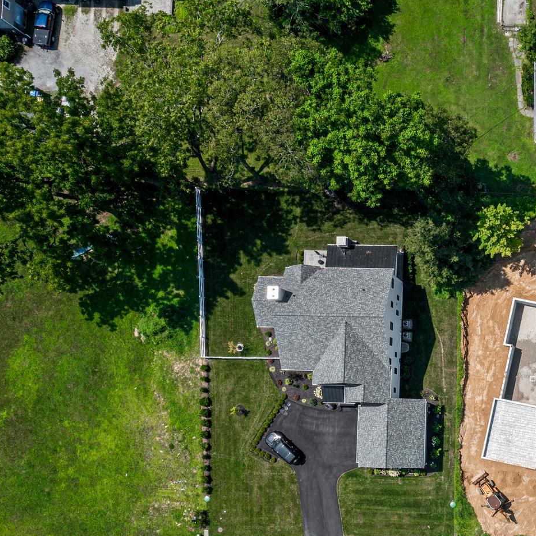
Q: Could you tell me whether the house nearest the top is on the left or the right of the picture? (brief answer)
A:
left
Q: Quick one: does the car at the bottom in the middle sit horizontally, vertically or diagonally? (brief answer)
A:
diagonally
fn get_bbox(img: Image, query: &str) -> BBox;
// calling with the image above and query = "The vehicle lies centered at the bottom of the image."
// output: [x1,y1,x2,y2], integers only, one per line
[265,430,305,467]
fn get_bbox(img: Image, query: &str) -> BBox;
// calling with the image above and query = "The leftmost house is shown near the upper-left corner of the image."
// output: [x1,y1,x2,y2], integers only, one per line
[0,0,38,37]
